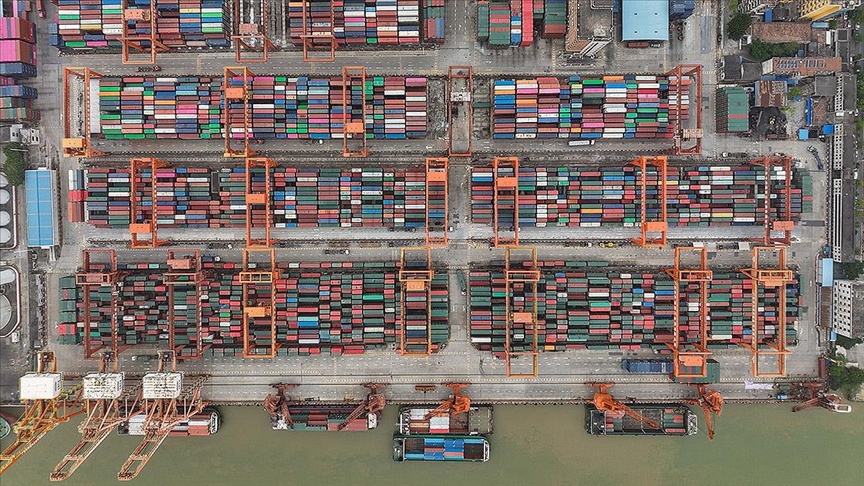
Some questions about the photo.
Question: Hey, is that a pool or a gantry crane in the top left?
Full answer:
Looking in the top left, you will find a gantry crane.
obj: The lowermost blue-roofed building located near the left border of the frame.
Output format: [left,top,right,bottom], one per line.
[24,166,66,249]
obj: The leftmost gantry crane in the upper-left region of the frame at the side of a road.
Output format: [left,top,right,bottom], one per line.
[60,66,111,158]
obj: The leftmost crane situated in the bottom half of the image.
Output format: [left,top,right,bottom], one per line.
[0,350,95,477]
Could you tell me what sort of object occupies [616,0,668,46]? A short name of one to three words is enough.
building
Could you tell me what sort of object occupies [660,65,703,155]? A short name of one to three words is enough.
container crane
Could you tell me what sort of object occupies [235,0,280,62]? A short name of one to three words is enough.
container crane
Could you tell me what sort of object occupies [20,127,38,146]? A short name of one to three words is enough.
house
